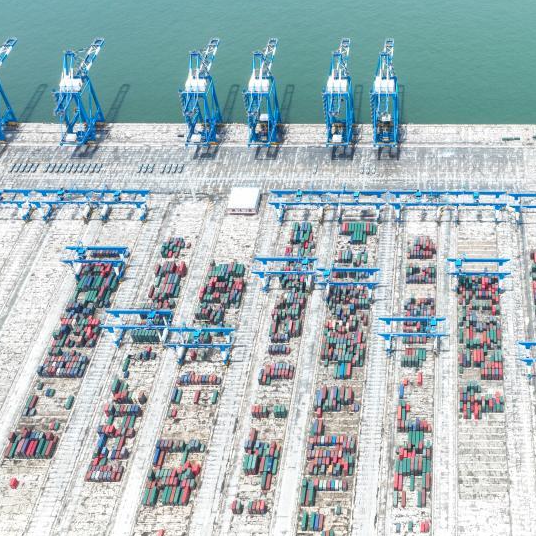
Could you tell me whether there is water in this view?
Yes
